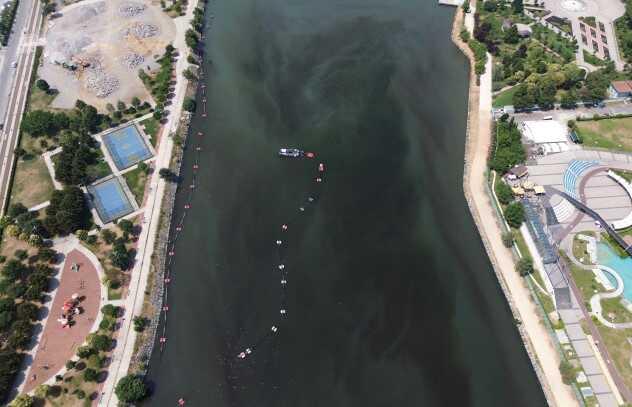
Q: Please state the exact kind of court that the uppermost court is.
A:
basketball court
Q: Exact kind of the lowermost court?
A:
tennis court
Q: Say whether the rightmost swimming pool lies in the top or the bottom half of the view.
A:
bottom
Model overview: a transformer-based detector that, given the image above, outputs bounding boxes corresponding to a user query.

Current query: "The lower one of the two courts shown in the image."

[86,172,134,224]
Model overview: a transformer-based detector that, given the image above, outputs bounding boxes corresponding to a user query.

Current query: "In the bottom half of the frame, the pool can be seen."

[596,242,632,303]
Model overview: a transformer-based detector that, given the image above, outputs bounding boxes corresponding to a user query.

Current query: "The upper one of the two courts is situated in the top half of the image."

[100,120,152,169]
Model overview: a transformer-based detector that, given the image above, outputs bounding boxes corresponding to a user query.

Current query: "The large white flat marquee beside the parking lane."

[523,120,567,146]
